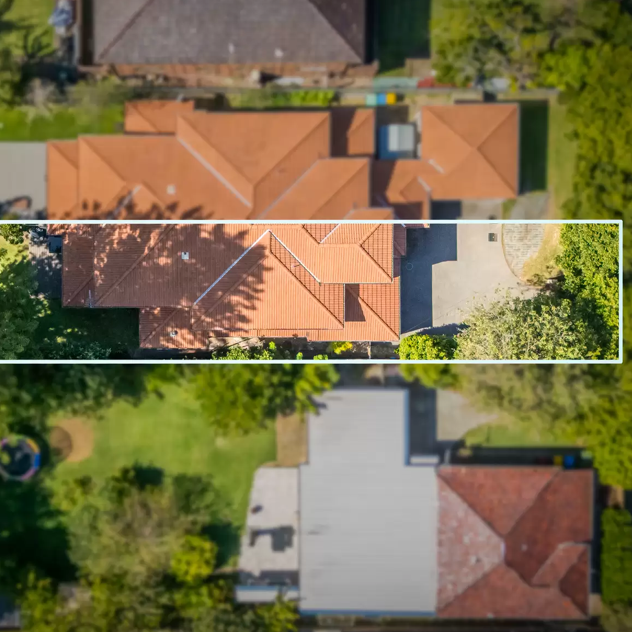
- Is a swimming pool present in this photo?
No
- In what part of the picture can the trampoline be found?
bottom left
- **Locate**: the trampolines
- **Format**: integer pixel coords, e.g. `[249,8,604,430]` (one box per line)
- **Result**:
[0,436,40,486]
